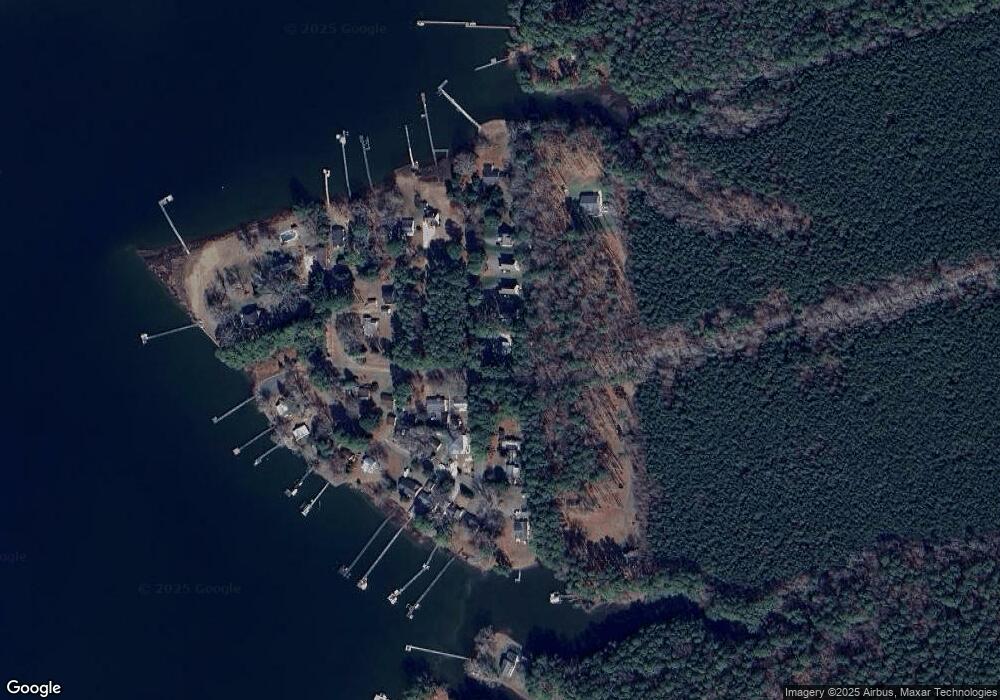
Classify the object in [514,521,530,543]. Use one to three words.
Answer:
house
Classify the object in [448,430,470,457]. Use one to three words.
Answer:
house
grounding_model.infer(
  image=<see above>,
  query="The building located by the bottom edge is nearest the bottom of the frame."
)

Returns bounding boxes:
[500,651,521,679]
